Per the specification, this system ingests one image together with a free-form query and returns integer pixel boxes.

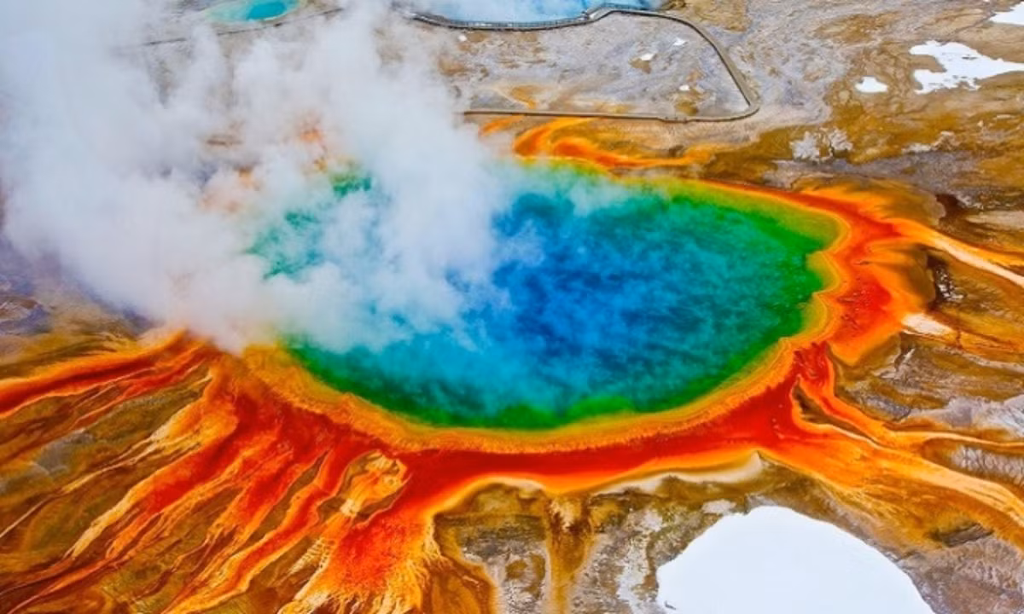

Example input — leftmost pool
[201,0,301,23]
